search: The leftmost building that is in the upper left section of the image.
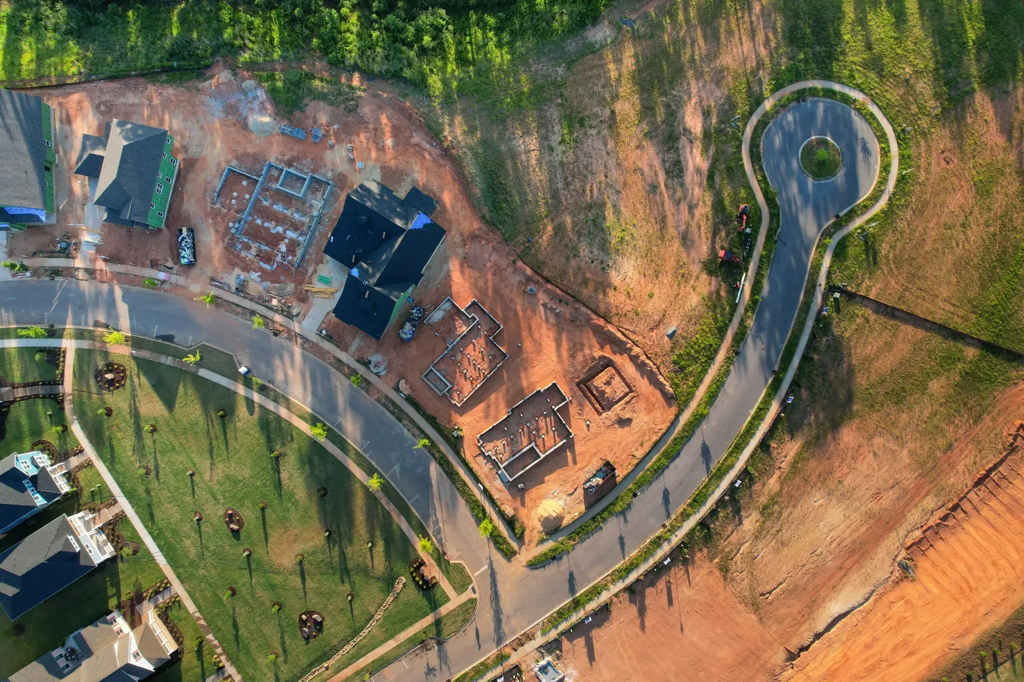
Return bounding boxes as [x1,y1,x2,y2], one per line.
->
[0,90,59,230]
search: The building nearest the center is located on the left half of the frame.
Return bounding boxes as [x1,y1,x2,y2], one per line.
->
[324,179,446,340]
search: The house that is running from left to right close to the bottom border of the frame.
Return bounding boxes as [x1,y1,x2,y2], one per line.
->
[5,608,178,682]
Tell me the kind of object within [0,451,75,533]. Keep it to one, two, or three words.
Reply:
house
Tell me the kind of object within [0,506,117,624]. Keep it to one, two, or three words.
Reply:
house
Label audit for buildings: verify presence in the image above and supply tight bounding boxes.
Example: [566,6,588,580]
[324,179,446,340]
[74,118,181,230]
[0,506,117,624]
[5,608,178,682]
[0,90,59,230]
[0,451,75,533]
